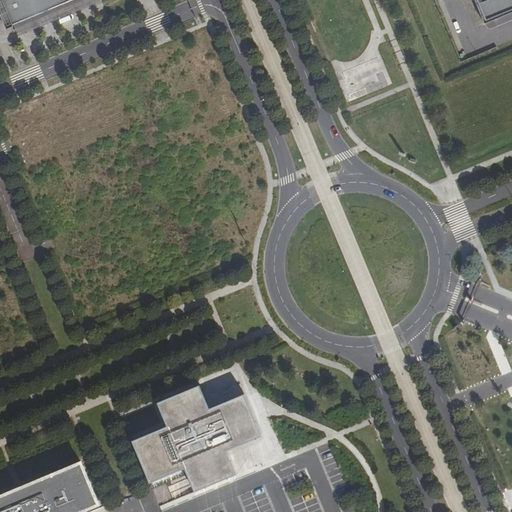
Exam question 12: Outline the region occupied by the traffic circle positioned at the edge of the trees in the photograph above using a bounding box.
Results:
[264,172,452,356]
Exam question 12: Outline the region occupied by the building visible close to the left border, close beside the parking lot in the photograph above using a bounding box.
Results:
[0,462,100,512]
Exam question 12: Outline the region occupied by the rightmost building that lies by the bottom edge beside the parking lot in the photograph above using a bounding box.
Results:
[130,386,260,508]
